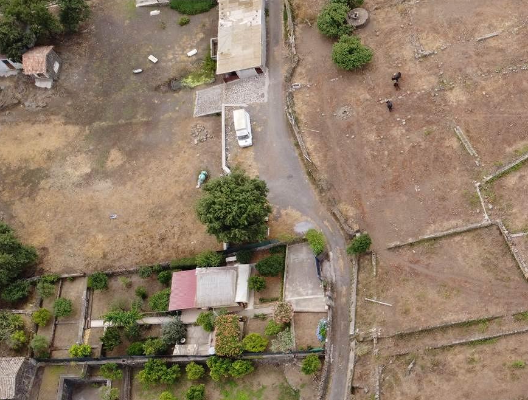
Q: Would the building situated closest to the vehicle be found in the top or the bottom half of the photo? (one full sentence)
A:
The building situated closest to the vehicle sits in the top half of the picture.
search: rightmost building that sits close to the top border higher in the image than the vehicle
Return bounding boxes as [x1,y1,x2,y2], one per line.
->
[217,0,267,84]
